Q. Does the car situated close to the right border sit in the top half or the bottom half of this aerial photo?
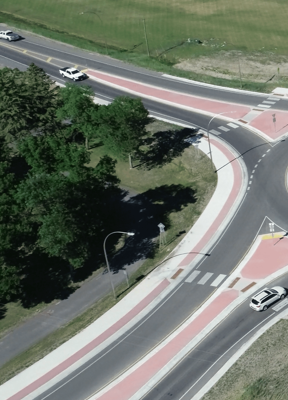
bottom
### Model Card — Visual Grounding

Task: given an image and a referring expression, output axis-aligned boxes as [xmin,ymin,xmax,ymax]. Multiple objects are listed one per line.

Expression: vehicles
[0,30,19,42]
[59,68,85,81]
[249,285,288,311]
